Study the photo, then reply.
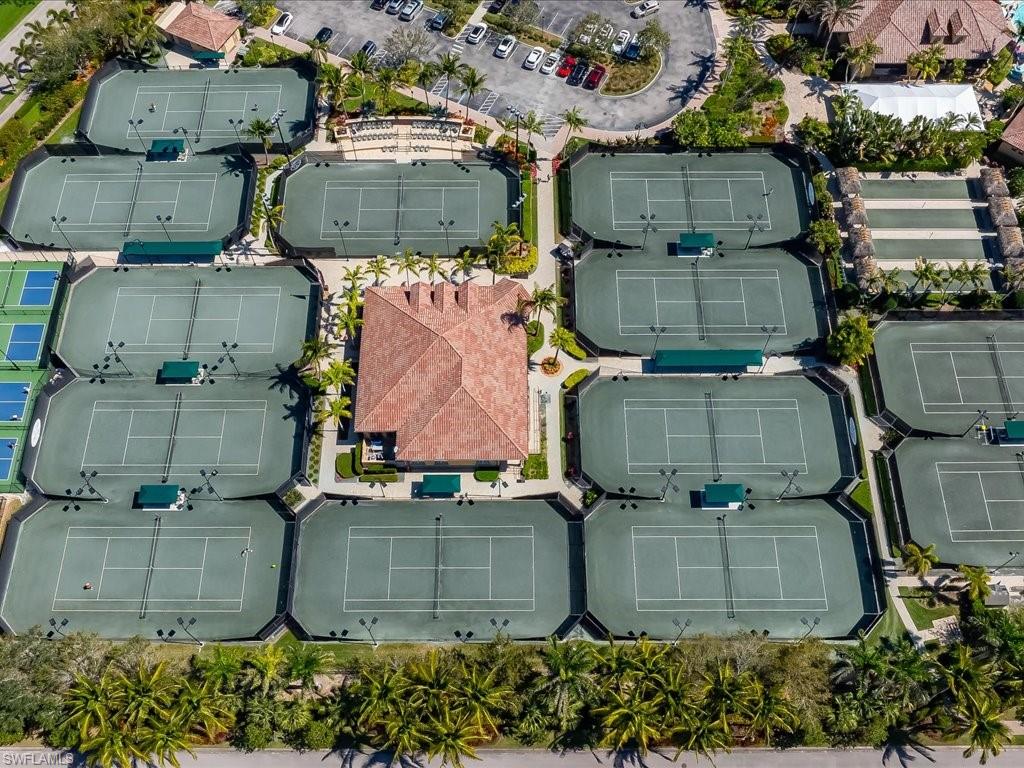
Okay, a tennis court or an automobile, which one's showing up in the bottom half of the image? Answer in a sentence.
The one visible in the bottom half of the image is a tennis court.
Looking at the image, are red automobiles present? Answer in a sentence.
Yes, you can see a red automobile in this photo.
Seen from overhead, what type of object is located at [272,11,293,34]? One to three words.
car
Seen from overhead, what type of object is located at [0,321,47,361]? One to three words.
sports court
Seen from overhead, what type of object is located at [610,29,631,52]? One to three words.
car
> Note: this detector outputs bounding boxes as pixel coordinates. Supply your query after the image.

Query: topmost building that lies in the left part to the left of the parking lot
[156,1,239,55]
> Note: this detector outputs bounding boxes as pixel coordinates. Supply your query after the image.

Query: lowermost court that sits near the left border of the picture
[0,500,301,641]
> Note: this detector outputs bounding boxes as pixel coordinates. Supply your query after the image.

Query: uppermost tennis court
[86,68,322,156]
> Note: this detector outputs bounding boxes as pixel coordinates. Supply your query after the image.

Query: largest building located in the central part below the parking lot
[354,275,528,464]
